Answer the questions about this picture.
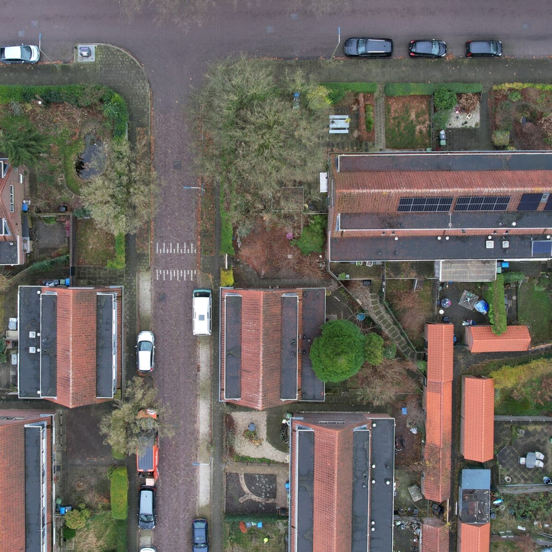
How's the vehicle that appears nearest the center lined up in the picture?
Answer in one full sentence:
From this overhead view, the vehicle that appears nearest the center appears to run up and down.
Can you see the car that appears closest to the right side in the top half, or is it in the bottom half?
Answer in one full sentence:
The car that appears closest to the right side is in the top half of the image.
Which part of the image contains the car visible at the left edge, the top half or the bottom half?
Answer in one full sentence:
The car visible at the left edge is in the top half of the image.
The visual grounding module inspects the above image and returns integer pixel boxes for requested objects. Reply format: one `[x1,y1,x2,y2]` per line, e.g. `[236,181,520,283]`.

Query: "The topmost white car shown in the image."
[1,42,42,64]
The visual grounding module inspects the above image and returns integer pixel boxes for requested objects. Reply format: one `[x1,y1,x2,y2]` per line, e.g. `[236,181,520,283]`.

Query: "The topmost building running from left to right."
[327,150,552,260]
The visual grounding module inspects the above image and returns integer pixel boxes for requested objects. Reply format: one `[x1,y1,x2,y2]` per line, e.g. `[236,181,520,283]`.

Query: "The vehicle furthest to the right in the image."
[463,38,502,58]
